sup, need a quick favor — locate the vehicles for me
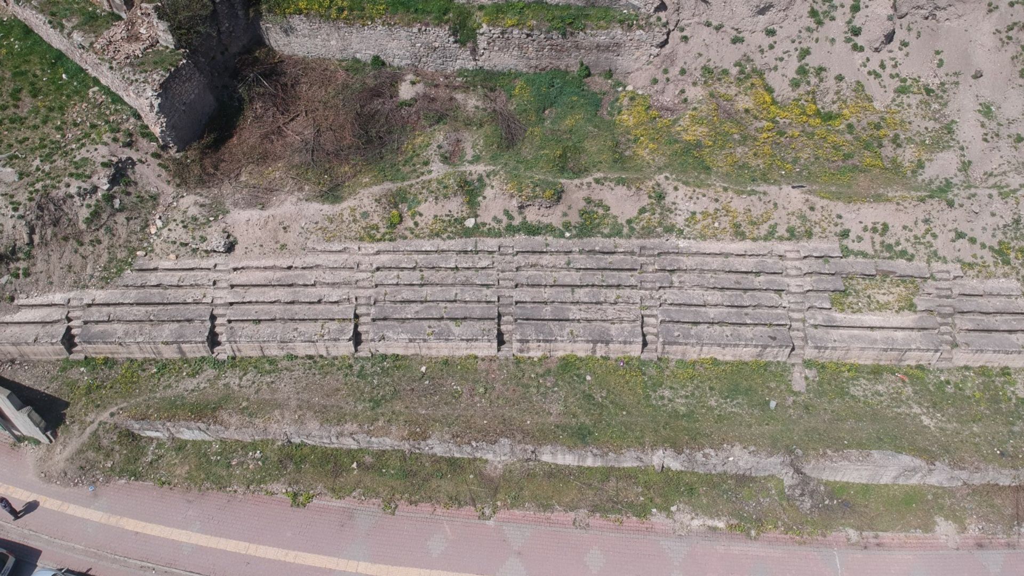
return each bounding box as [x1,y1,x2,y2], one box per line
[29,563,77,576]
[0,545,17,576]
